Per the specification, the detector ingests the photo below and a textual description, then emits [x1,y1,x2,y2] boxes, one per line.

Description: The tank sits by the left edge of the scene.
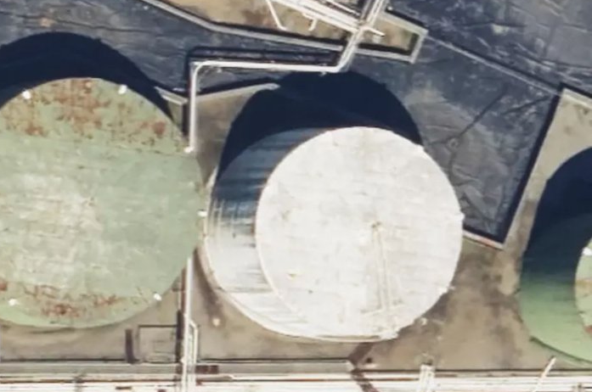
[0,78,207,328]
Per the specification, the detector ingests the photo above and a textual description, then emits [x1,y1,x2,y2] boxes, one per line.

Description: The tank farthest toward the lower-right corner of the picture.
[515,203,592,368]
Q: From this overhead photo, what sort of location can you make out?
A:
industrial area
